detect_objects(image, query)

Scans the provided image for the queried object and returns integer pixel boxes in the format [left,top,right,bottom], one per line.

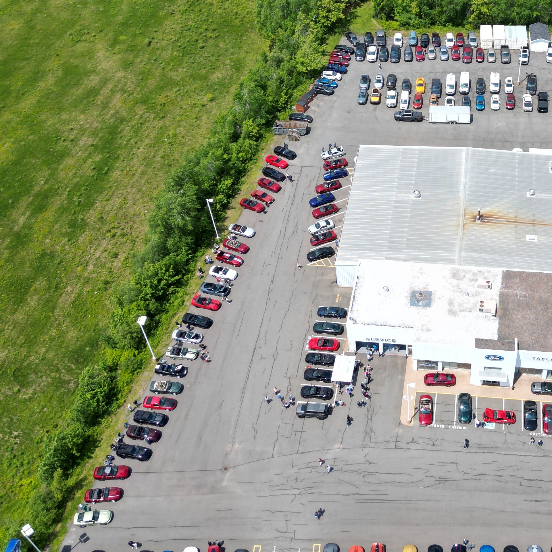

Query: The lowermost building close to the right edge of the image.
[333,144,552,394]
